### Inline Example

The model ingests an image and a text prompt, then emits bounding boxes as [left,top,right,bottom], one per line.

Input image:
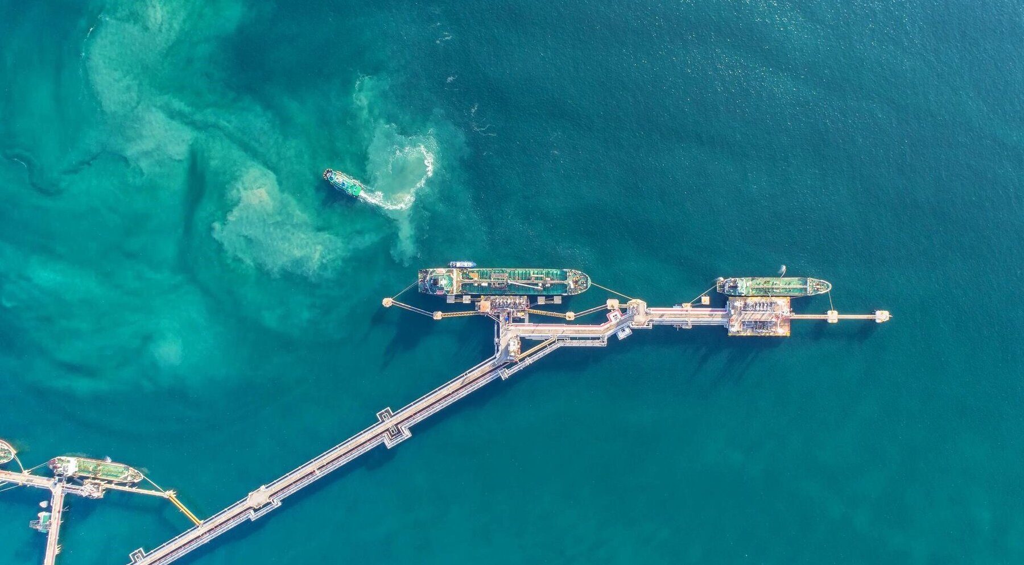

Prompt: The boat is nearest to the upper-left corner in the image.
[323,170,364,197]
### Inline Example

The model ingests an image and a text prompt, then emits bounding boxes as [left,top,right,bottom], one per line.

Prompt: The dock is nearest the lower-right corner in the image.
[648,313,728,325]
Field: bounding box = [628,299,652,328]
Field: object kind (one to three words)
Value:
pier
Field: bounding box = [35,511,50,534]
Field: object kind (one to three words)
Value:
boat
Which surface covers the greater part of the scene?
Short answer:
water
